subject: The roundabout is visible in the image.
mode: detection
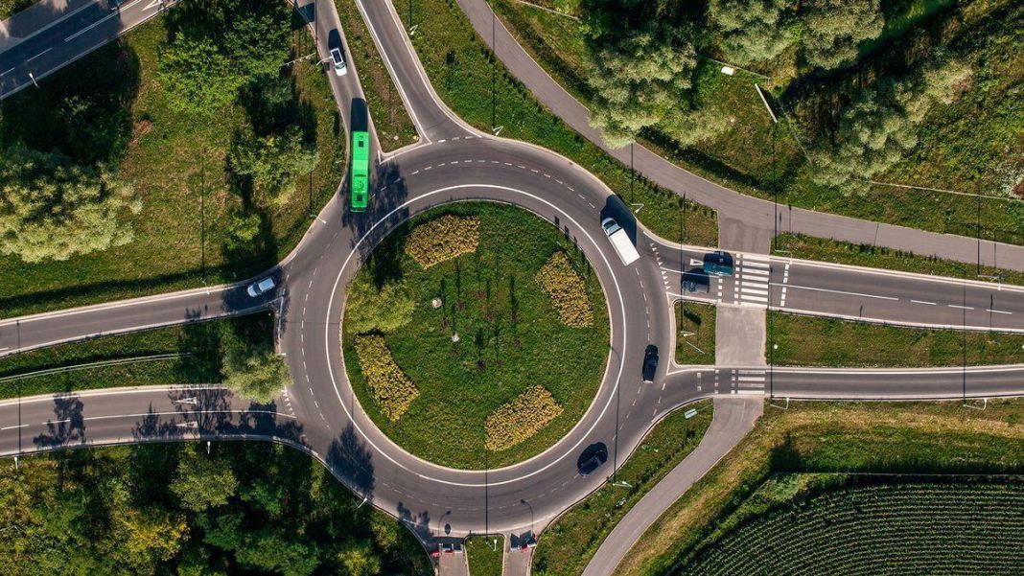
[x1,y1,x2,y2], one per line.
[282,137,670,532]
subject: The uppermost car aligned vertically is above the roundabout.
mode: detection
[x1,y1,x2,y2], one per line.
[329,46,347,77]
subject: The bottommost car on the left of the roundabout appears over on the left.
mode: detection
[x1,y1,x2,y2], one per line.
[246,275,277,297]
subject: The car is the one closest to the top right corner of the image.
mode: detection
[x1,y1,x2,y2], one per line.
[703,260,733,275]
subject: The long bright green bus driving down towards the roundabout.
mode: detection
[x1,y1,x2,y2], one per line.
[349,131,369,215]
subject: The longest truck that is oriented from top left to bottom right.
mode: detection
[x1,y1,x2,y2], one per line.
[601,216,640,266]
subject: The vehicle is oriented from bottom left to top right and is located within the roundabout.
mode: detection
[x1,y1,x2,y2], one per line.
[577,447,606,475]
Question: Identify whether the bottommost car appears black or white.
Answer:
black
